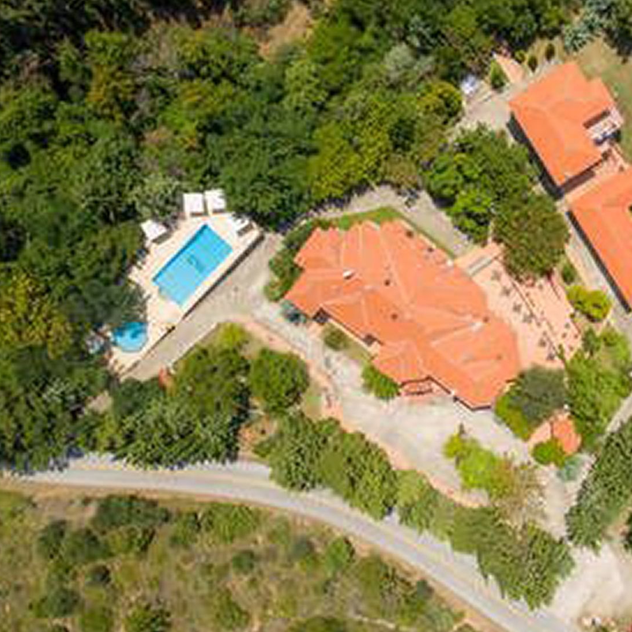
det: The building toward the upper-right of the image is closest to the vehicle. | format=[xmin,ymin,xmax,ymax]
[508,64,613,185]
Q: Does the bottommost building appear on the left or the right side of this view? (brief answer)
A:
right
